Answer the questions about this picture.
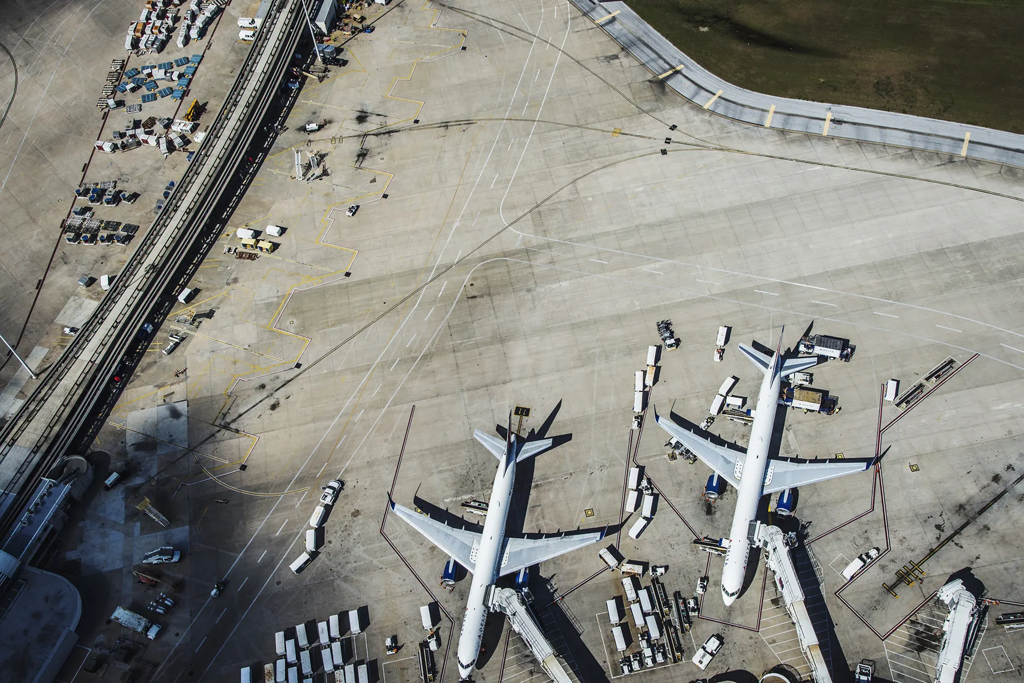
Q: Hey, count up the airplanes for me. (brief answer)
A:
2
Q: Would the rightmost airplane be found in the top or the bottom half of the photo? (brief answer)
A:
bottom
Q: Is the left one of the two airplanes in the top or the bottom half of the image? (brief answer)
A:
bottom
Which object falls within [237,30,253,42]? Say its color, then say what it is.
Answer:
white vehicle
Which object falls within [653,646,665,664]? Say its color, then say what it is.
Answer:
white vehicle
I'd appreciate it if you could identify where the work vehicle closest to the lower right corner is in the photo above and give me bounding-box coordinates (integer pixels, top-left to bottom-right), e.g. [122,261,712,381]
[989,612,1024,632]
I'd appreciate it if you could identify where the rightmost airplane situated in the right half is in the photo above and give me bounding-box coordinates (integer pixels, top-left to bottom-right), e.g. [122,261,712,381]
[652,326,878,604]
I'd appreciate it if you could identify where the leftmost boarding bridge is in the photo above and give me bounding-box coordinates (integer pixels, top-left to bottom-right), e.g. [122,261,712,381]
[482,582,575,683]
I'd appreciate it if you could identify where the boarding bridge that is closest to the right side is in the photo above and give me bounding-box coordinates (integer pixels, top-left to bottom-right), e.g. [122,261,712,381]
[932,575,980,683]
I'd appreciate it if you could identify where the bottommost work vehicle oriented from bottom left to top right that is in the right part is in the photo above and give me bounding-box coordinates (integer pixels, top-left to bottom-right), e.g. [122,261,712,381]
[690,633,724,670]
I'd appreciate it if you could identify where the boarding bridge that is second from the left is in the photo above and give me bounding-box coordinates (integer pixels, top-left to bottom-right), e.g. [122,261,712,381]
[747,518,833,683]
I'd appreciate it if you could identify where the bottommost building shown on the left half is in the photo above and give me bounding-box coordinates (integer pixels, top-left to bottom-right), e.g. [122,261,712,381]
[0,560,94,683]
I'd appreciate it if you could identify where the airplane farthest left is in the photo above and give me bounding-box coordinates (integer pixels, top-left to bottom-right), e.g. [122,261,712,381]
[387,412,609,680]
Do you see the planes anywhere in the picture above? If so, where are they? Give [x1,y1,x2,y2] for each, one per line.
[652,326,878,604]
[387,412,609,680]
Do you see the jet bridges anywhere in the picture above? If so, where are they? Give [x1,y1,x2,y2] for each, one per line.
[932,575,980,683]
[747,518,833,683]
[482,582,575,683]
